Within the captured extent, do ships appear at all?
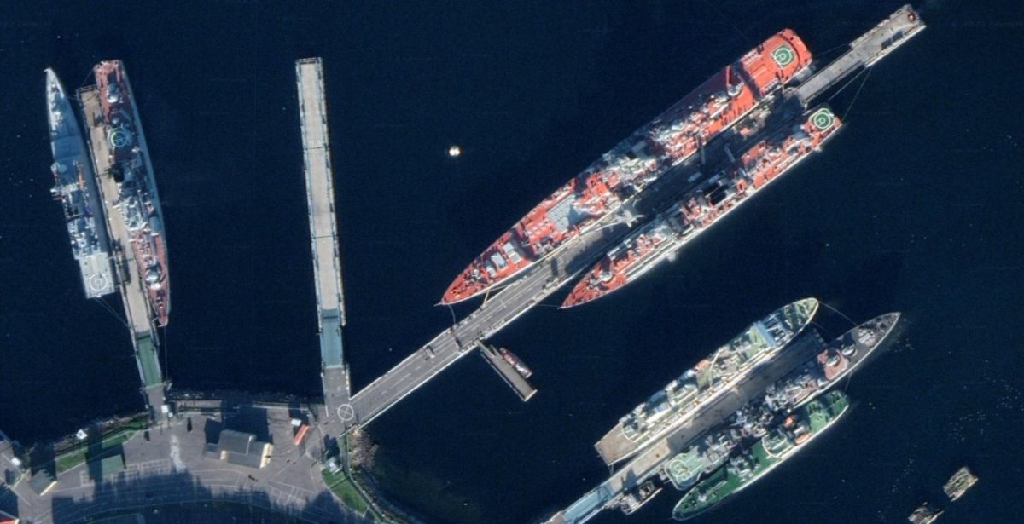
Yes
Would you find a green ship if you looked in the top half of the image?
No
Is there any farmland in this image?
No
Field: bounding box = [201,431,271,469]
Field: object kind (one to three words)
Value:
building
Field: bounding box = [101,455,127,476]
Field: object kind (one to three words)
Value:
shed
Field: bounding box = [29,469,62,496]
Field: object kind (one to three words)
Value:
building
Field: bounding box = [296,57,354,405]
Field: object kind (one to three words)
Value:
pier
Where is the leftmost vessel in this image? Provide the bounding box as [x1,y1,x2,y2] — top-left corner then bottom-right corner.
[44,68,119,301]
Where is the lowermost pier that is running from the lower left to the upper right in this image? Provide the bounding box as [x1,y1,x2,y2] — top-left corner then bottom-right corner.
[544,329,829,524]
